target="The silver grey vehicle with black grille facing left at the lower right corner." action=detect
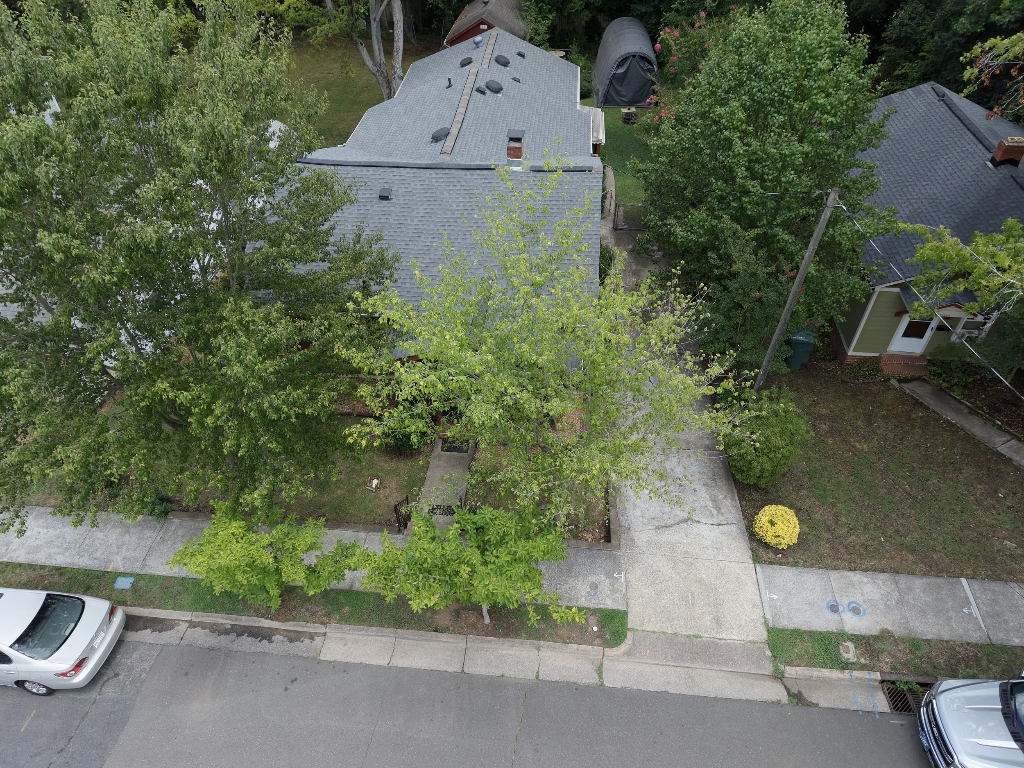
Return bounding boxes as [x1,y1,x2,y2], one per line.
[913,670,1024,768]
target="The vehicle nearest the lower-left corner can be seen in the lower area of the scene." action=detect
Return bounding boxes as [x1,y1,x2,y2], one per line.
[0,587,128,701]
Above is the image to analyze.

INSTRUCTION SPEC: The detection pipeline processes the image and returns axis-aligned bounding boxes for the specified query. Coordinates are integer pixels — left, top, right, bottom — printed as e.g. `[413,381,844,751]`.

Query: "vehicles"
[0,587,128,701]
[913,670,1024,768]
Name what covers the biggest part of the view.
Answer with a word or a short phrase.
trees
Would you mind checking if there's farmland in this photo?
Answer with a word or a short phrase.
No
